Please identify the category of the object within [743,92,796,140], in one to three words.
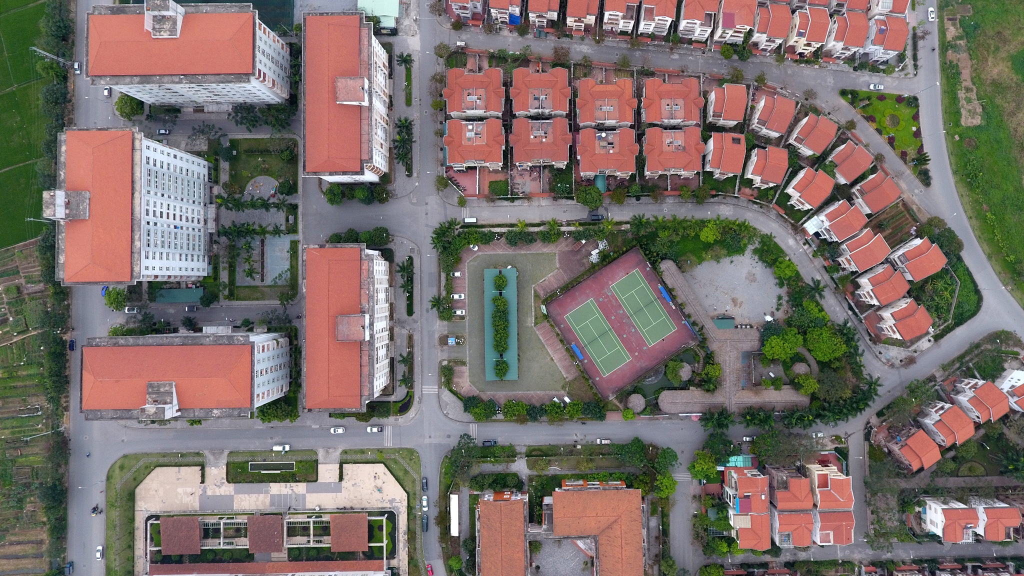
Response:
house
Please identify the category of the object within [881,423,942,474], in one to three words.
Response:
house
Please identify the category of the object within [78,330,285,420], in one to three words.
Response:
building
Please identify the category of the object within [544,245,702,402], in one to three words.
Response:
tennis court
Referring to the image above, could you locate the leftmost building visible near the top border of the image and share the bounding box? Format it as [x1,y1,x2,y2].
[83,0,287,118]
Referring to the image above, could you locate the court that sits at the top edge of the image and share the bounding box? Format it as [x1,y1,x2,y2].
[215,0,293,33]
